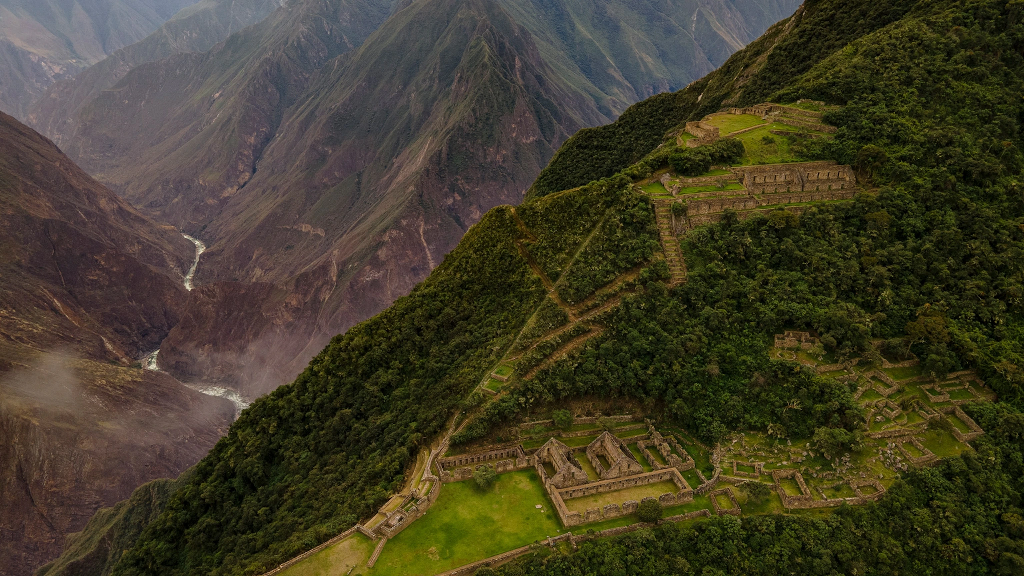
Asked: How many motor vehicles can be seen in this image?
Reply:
zero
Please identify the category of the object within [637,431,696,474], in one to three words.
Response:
house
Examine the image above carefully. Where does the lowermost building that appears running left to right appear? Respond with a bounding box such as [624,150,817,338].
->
[551,464,693,528]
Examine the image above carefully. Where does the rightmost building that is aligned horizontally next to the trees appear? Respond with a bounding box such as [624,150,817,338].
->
[772,331,816,352]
